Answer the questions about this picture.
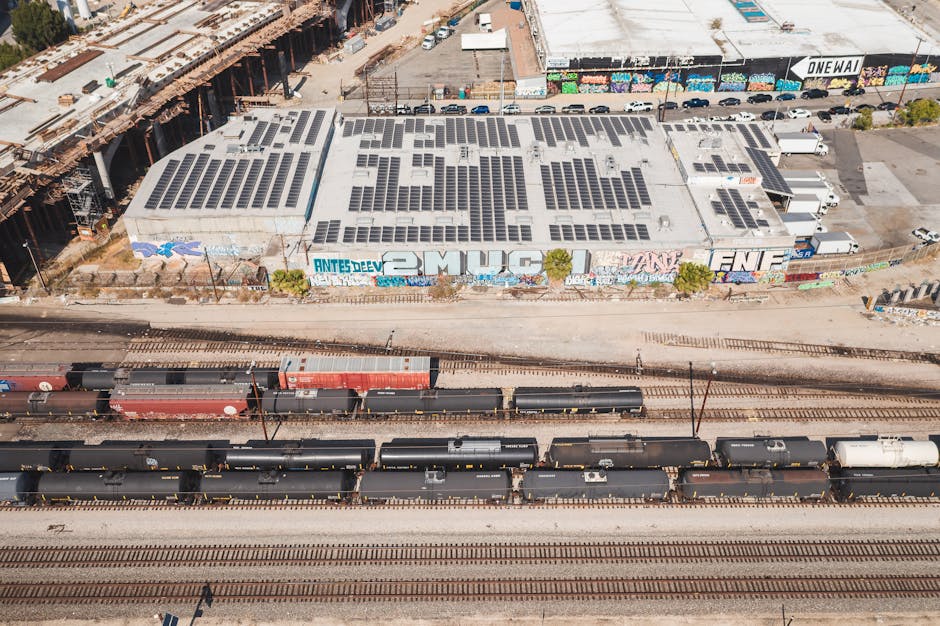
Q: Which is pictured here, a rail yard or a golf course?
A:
rail yard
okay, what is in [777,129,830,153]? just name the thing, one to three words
truck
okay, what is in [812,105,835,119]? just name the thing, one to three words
car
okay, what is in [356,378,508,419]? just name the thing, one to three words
rail car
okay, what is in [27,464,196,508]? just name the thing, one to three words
rail car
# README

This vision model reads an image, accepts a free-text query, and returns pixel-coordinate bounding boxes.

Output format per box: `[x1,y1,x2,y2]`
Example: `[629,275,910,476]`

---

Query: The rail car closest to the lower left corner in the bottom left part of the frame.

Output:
[0,472,32,508]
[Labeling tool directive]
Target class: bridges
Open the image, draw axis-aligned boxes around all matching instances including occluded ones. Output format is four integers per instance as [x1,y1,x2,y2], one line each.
[0,0,350,279]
